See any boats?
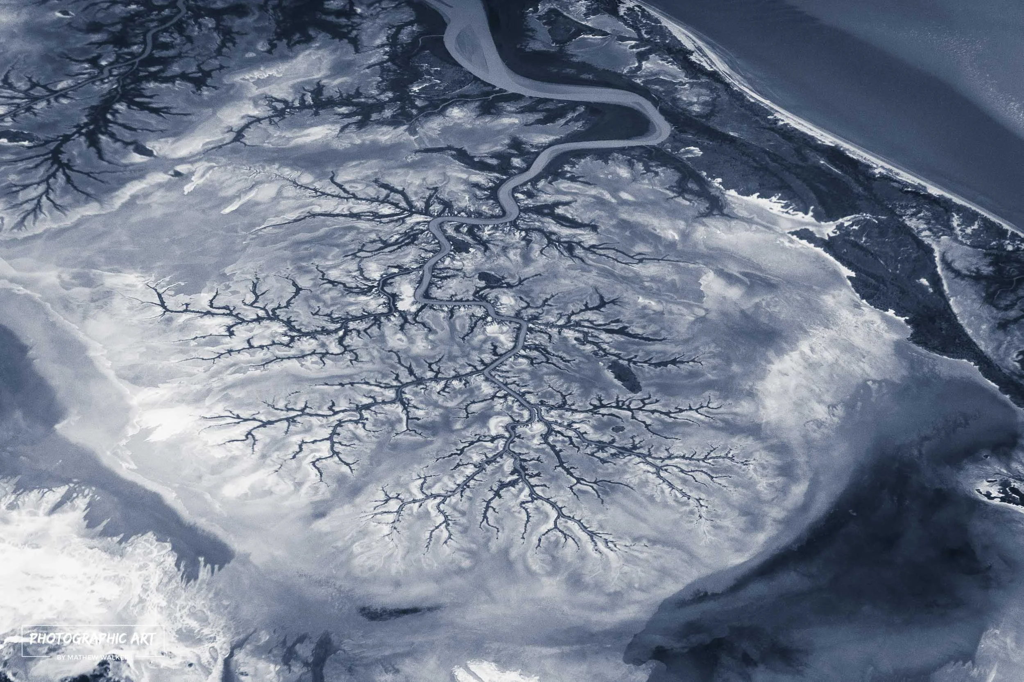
No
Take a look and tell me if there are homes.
No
